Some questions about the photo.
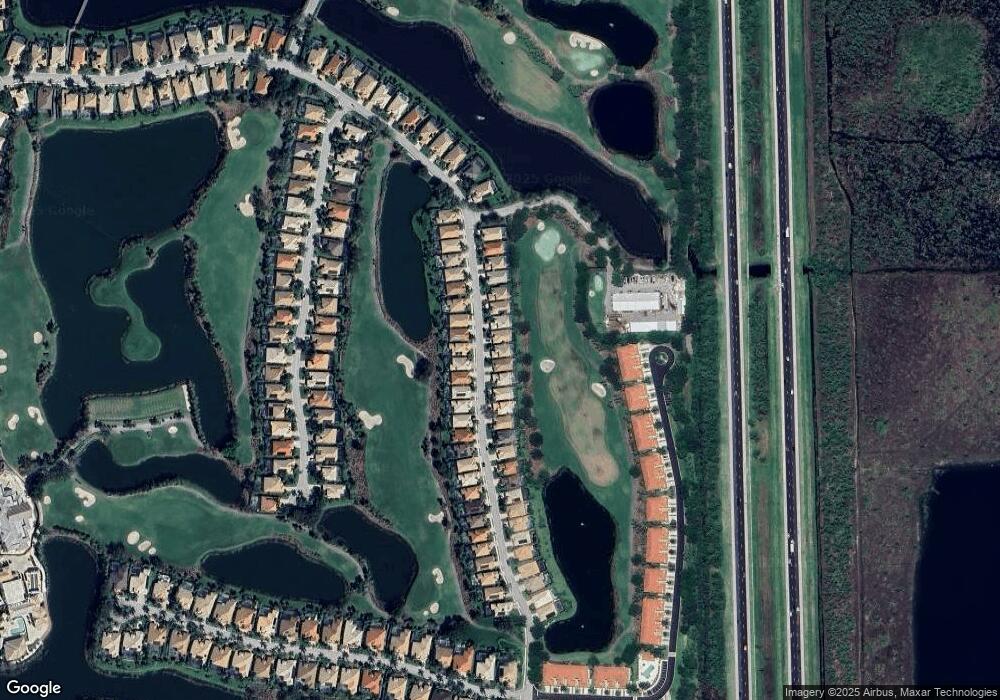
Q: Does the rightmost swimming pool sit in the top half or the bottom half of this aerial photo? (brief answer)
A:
bottom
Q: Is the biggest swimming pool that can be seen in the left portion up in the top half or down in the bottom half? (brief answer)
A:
bottom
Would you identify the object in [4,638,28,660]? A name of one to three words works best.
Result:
building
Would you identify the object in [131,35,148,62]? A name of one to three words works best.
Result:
house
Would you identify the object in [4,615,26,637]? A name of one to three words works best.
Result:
swimming pool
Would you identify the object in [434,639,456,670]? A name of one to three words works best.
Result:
house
